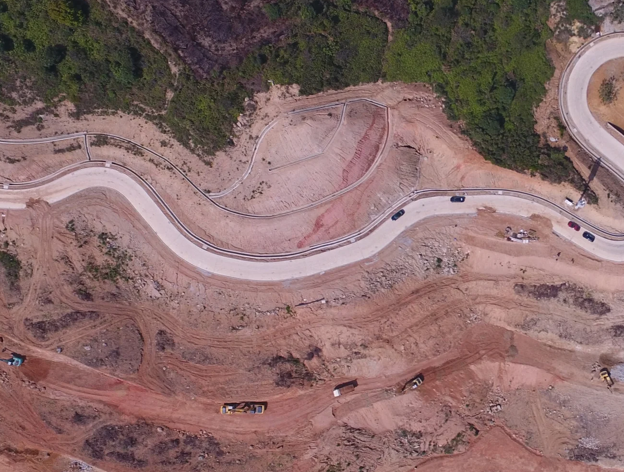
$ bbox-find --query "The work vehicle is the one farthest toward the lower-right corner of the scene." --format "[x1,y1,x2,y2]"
[598,368,615,396]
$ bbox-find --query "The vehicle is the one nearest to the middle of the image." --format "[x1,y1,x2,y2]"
[390,208,405,221]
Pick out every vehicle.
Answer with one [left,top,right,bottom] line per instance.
[399,376,425,395]
[598,368,615,396]
[390,208,405,221]
[451,197,466,203]
[567,220,582,232]
[0,356,23,368]
[582,232,597,242]
[330,384,356,398]
[241,405,266,416]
